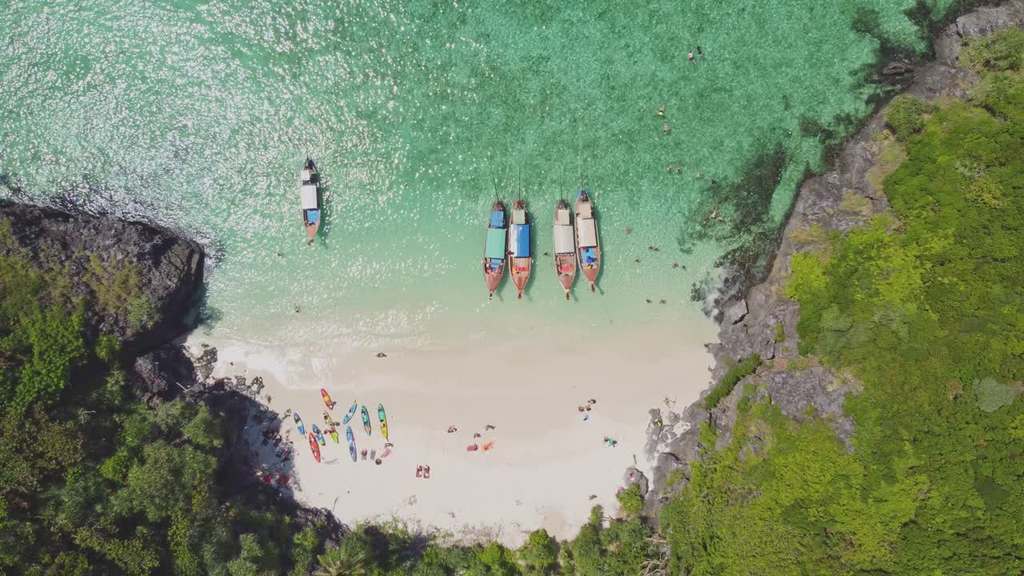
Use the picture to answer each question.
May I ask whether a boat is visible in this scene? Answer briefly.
Yes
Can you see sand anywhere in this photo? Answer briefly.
Yes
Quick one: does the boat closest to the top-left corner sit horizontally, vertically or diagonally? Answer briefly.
vertically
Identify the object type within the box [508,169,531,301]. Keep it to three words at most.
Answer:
boat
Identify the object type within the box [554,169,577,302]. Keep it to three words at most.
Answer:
boat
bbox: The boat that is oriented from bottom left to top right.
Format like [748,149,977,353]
[342,405,355,425]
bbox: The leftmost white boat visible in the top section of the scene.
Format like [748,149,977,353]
[298,125,319,246]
